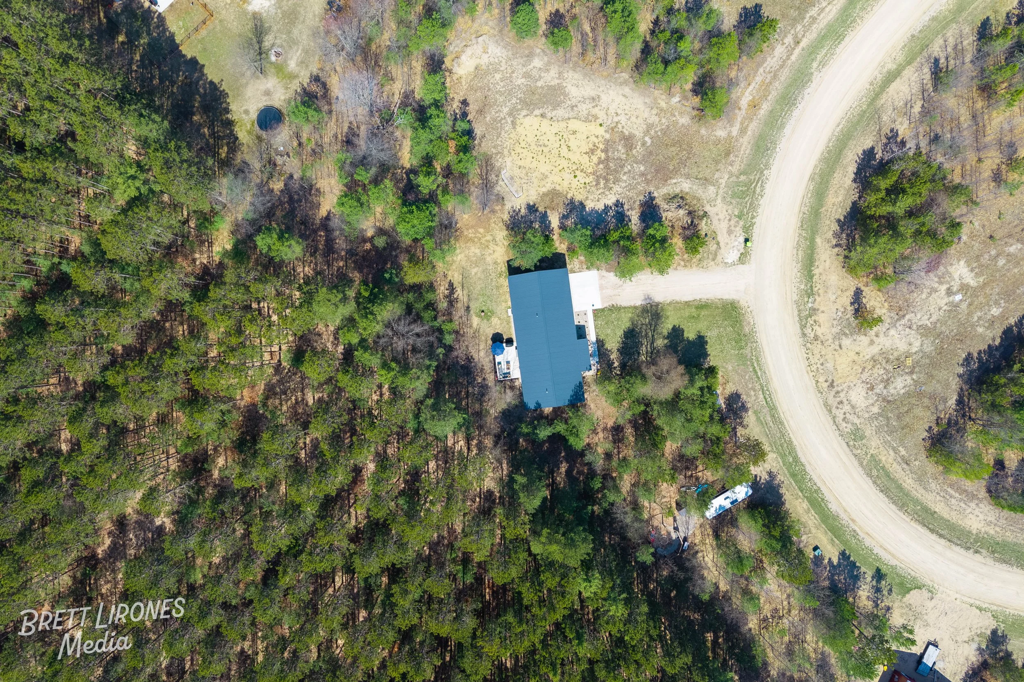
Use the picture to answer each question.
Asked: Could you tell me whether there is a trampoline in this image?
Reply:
Yes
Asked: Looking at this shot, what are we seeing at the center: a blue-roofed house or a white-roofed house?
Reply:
blue-roofed house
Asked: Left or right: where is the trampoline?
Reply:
left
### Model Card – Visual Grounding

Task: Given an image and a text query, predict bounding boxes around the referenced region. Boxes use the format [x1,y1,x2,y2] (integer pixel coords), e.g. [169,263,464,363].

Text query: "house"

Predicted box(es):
[508,268,592,409]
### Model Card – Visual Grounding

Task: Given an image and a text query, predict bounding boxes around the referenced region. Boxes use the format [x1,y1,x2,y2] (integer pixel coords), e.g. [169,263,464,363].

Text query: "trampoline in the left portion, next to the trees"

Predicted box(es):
[256,105,283,132]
